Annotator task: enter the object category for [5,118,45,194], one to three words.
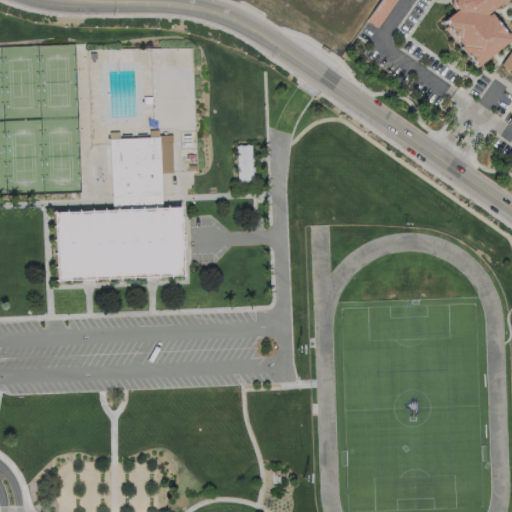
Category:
tennis court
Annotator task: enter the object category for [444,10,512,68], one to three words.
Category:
building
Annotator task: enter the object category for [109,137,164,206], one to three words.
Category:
building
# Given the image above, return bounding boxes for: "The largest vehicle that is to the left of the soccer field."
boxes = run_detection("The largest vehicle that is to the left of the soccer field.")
[150,342,164,363]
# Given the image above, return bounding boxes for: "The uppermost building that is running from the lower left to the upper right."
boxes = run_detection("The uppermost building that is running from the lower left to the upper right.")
[368,0,399,28]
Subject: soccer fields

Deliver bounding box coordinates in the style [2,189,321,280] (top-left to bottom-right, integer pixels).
[334,298,492,512]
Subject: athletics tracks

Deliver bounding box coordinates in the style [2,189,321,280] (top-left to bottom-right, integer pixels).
[312,226,509,512]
